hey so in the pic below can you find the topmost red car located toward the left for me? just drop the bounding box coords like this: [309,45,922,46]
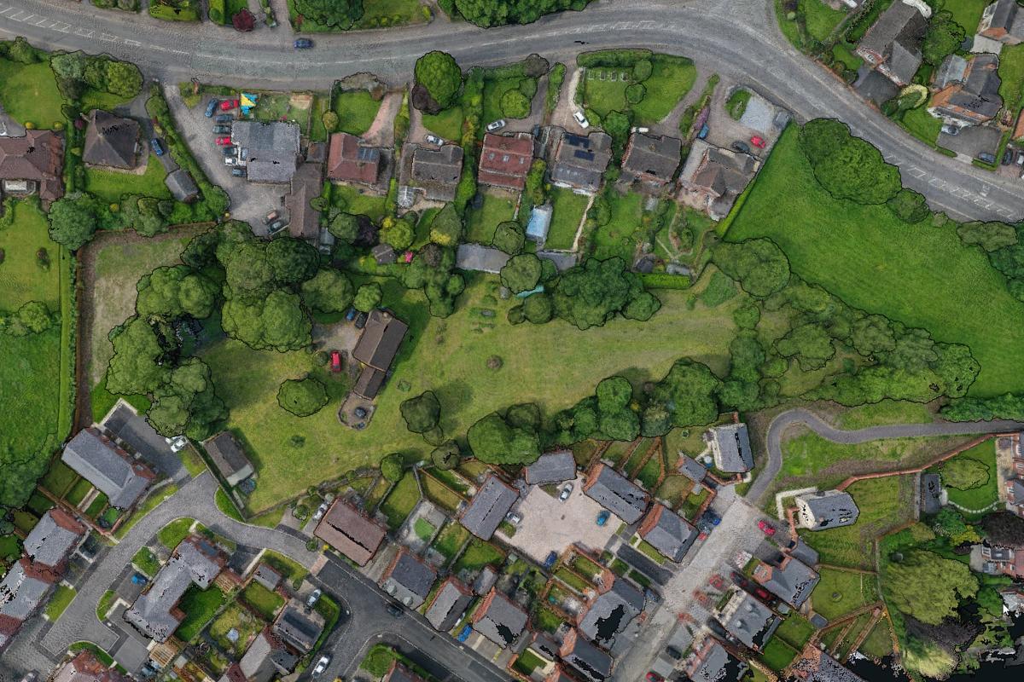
[220,97,240,110]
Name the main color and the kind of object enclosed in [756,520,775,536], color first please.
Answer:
red car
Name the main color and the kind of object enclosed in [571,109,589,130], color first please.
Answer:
white car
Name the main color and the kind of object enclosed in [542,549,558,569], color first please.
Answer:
blue car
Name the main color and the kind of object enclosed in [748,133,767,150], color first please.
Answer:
red car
